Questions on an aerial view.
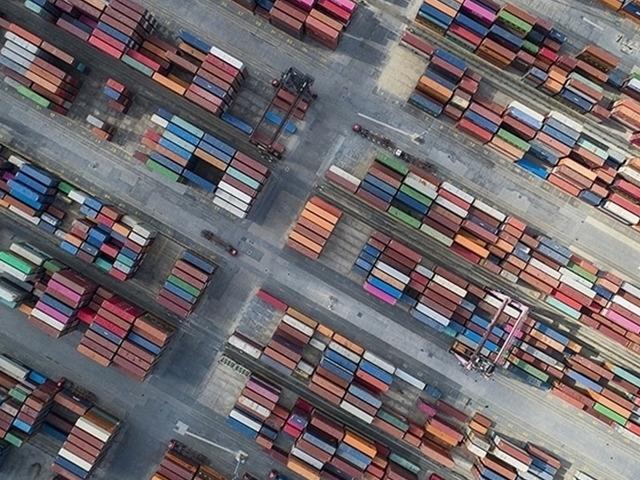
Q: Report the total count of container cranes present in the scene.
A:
2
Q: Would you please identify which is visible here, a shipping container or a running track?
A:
shipping container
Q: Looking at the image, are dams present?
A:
No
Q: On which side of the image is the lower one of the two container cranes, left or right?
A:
right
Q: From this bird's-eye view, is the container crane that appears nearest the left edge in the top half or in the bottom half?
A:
top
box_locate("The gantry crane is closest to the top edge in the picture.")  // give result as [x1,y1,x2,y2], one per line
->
[246,63,319,161]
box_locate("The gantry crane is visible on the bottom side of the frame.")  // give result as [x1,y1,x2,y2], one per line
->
[448,283,531,377]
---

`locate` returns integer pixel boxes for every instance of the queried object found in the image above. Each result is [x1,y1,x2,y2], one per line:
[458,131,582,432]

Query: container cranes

[448,283,531,377]
[246,63,319,161]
